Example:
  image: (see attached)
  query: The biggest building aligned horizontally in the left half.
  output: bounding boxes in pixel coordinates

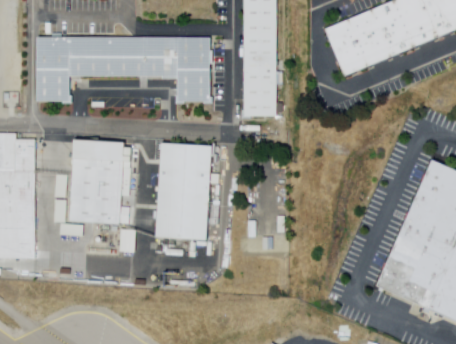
[36,37,213,104]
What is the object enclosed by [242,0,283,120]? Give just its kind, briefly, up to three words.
building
